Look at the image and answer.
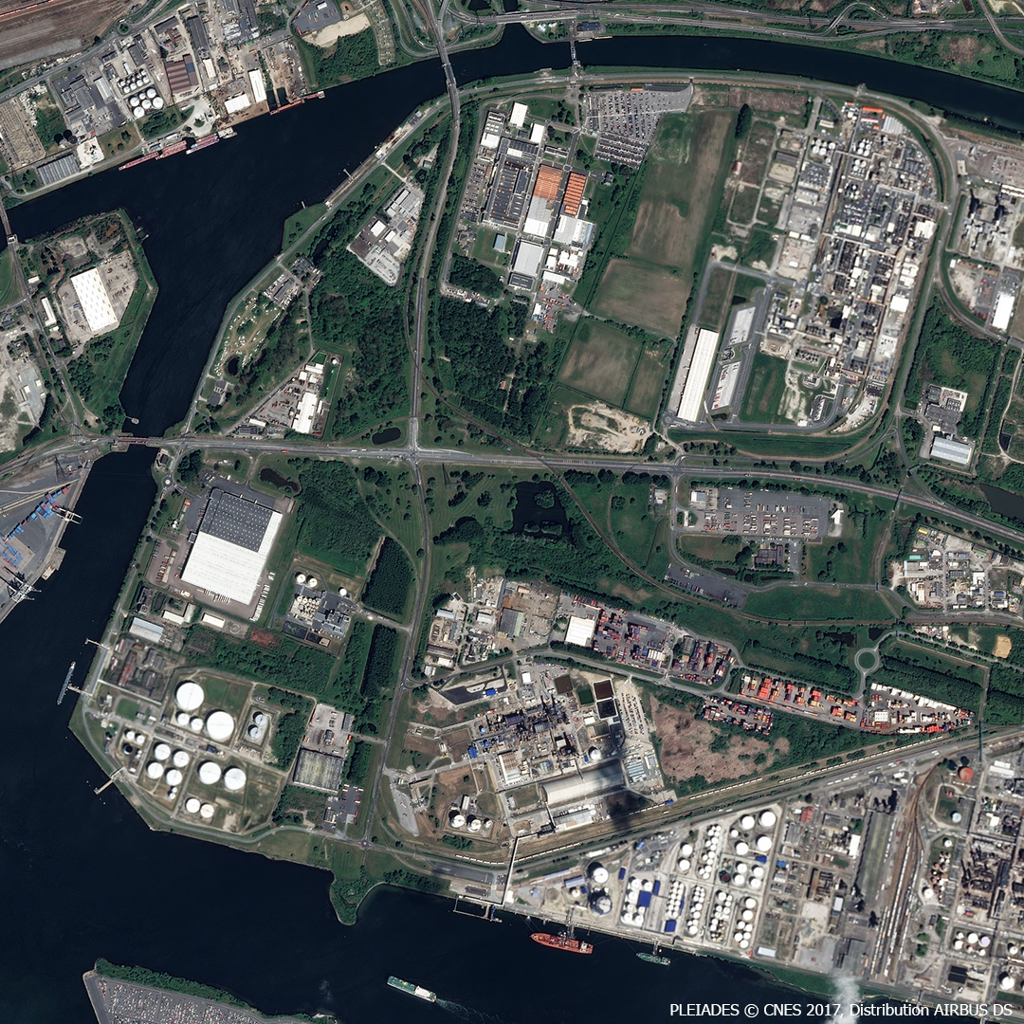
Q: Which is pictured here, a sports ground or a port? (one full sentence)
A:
This looks like a port.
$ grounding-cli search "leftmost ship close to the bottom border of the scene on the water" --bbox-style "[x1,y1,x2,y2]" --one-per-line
[387,977,436,1003]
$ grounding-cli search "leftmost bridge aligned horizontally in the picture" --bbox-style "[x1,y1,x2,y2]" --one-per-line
[111,433,166,447]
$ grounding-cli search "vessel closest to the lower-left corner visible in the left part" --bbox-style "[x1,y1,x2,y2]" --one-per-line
[57,662,75,704]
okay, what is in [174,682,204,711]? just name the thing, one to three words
storage tank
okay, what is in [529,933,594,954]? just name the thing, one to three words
ship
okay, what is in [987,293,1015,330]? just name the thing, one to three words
building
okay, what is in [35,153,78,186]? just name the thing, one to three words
shed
